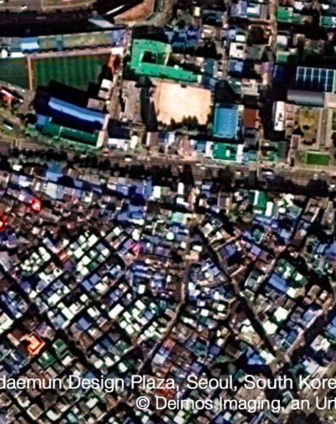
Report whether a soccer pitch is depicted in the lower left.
No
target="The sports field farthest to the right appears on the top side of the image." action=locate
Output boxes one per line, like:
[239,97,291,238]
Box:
[153,80,211,125]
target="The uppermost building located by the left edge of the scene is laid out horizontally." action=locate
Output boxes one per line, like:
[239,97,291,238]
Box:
[0,29,130,57]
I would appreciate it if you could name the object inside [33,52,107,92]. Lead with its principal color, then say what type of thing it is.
green soccer field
